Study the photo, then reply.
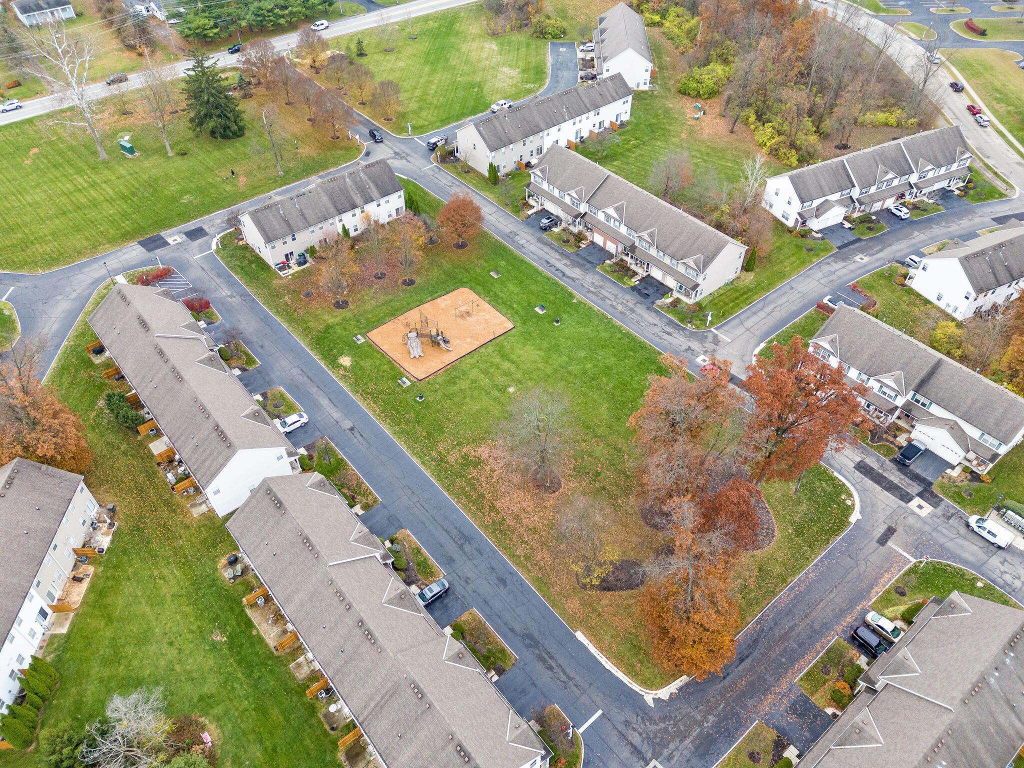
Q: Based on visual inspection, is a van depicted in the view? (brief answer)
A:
Yes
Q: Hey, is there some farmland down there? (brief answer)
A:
No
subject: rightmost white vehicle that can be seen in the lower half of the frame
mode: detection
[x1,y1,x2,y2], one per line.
[963,513,1023,550]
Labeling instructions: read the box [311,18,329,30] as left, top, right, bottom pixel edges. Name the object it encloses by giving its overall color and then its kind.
white vehicle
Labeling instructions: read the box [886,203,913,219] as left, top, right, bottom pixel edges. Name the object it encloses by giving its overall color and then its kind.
white car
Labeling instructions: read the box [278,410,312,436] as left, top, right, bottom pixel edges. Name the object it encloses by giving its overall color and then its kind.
white car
